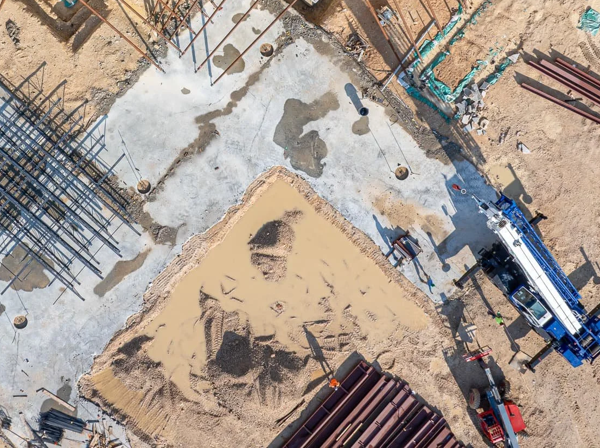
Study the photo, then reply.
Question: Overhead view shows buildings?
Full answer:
No, no building is visible in the scene.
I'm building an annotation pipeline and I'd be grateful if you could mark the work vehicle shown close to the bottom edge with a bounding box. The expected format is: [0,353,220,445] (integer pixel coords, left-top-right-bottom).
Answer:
[463,333,533,448]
